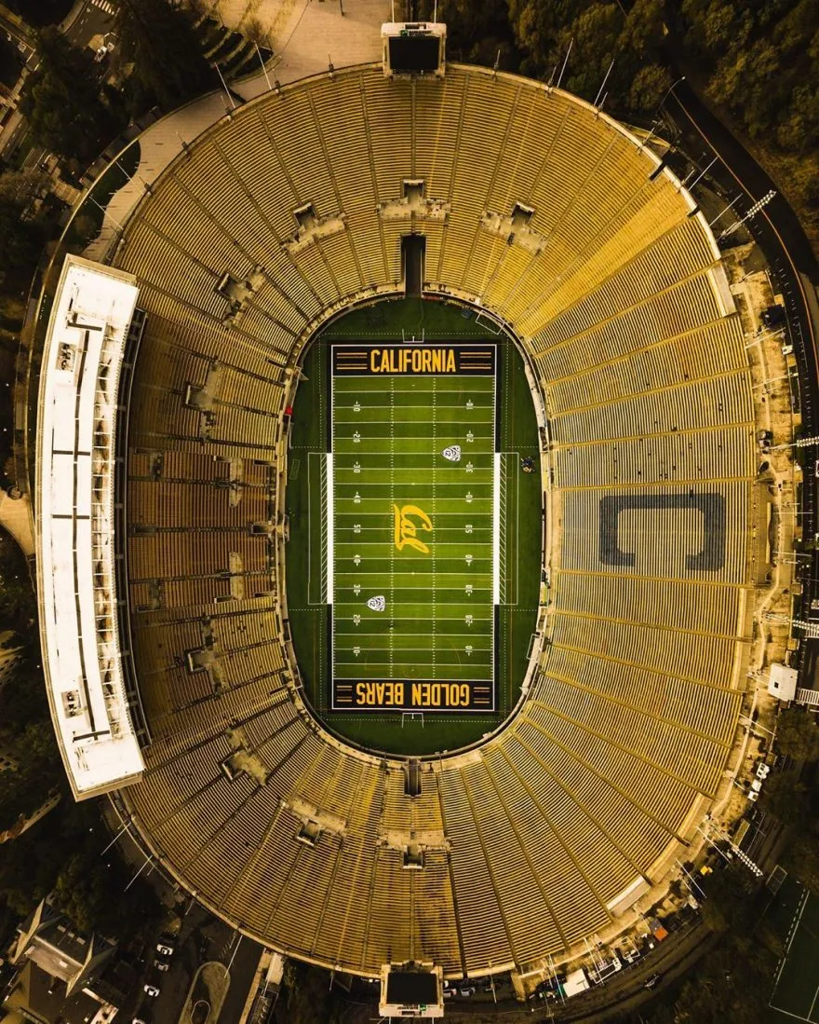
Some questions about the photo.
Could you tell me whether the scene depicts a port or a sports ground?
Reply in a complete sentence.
The area seen from above is a sports ground.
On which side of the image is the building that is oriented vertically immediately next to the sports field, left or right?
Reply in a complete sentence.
The building that is oriented vertically immediately next to the sports field is on the left side of the image.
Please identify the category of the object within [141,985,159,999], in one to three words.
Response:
car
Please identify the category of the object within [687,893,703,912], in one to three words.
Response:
vehicle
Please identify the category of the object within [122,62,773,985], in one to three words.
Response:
stadium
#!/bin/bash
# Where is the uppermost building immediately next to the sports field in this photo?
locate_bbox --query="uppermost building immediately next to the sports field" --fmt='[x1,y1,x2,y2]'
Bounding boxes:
[35,257,149,802]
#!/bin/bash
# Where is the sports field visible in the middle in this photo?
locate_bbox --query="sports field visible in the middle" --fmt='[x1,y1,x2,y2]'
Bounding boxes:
[283,296,544,756]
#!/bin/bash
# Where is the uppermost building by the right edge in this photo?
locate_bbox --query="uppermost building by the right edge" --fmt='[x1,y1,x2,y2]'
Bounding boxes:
[769,664,807,706]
